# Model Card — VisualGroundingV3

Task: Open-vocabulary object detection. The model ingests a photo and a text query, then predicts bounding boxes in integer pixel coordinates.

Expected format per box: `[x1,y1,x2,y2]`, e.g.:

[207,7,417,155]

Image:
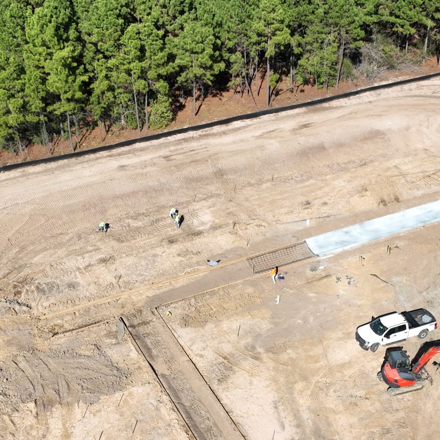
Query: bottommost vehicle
[380,344,440,395]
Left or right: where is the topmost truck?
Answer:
right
